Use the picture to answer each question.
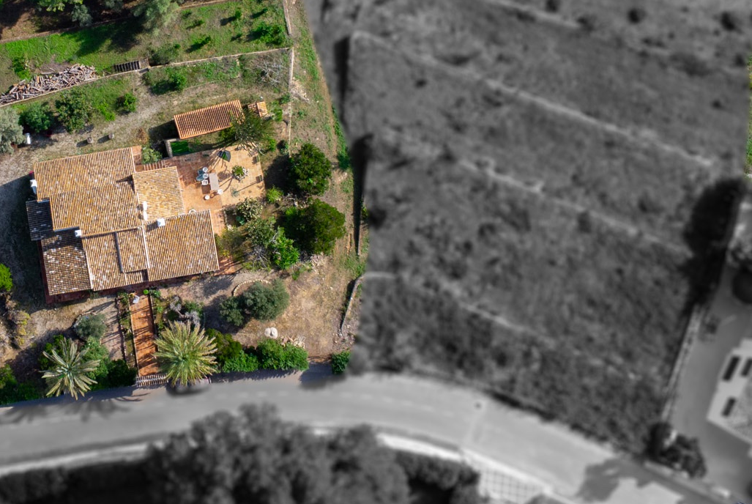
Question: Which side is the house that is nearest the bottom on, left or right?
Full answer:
The house that is nearest the bottom appears in the right half of the scene.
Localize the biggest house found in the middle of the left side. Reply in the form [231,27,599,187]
[25,147,220,295]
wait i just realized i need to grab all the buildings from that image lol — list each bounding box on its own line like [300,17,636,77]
[174,100,246,139]
[689,324,752,441]
[247,97,269,117]
[25,147,220,295]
